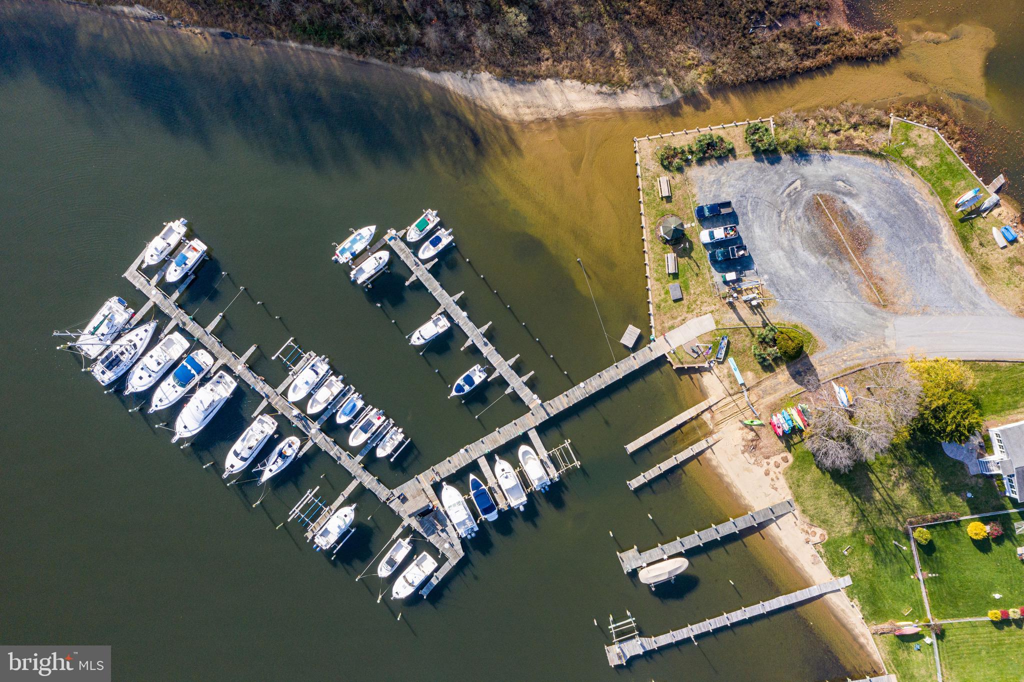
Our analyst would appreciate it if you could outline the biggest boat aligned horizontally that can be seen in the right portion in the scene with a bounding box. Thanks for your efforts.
[636,557,689,583]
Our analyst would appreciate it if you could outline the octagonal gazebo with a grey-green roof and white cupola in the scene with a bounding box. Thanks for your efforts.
[655,215,683,242]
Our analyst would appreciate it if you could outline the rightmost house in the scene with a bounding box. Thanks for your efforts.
[972,420,1024,502]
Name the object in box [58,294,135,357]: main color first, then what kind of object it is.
white boat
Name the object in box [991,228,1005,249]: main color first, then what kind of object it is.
white boat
